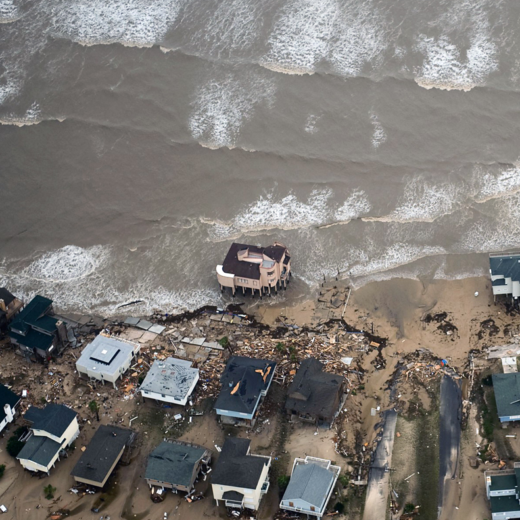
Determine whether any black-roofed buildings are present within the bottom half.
Yes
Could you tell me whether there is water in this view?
Yes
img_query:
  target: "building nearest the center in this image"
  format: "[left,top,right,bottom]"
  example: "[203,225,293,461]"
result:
[216,243,292,299]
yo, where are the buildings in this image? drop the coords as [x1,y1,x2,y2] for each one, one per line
[280,456,342,520]
[6,294,78,364]
[76,333,141,388]
[70,422,138,494]
[489,252,520,309]
[214,354,275,430]
[145,439,215,497]
[492,372,520,430]
[485,461,520,520]
[286,360,349,430]
[0,385,21,435]
[140,357,199,411]
[216,243,292,299]
[212,434,271,517]
[16,403,77,481]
